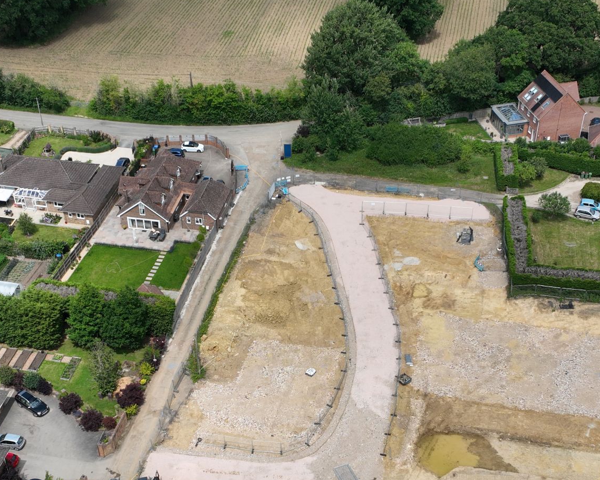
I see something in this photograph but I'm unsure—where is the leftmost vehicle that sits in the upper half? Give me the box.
[116,158,133,175]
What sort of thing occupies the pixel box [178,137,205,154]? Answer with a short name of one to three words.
car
